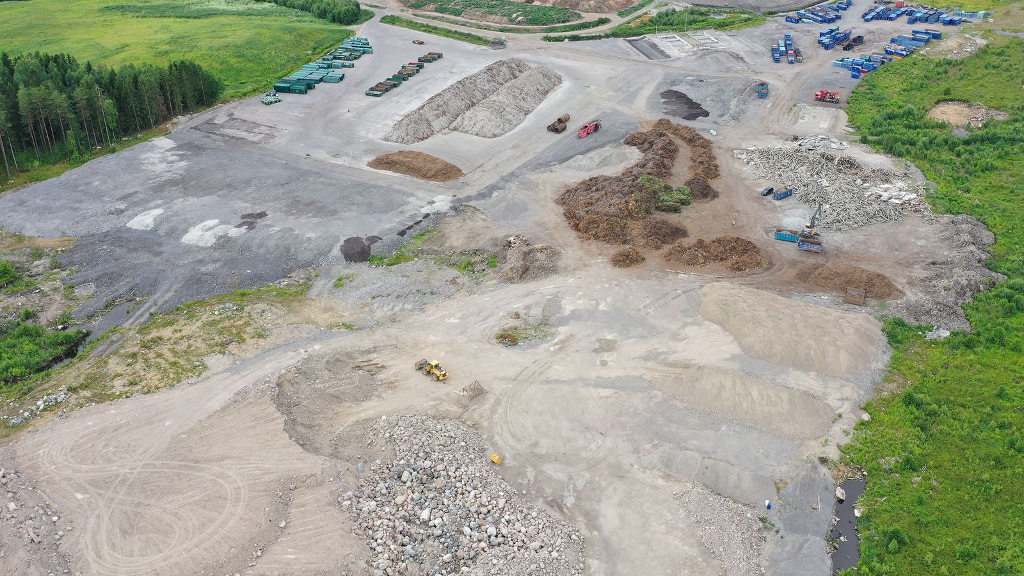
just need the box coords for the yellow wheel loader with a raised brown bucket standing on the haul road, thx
[415,359,451,383]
